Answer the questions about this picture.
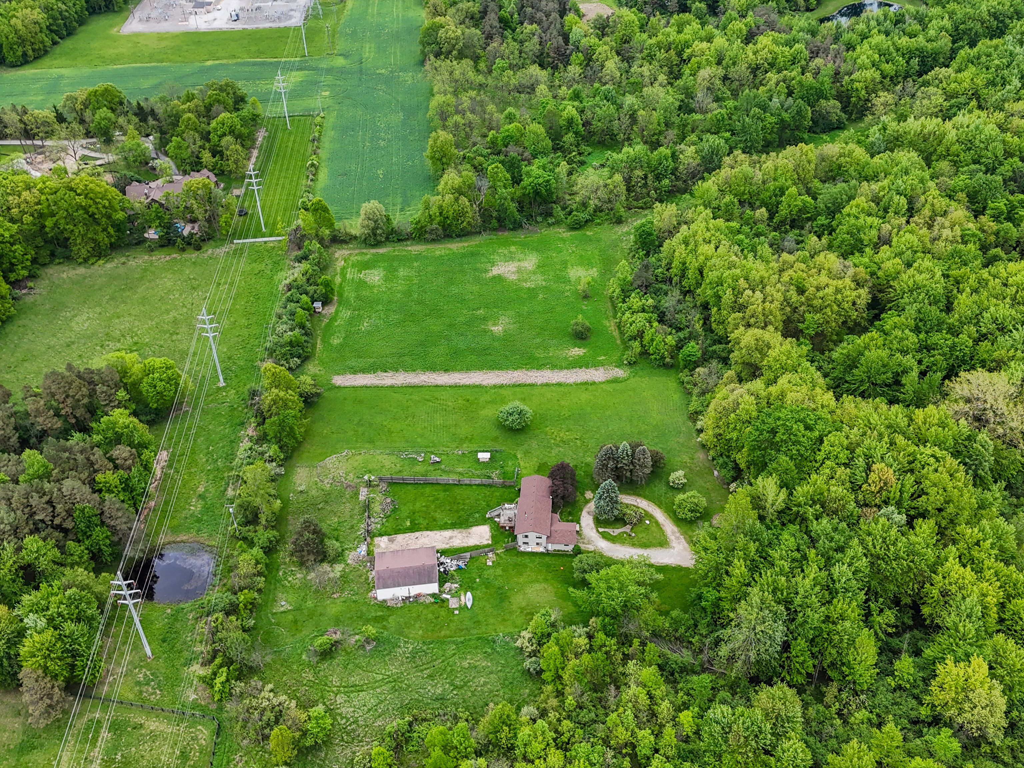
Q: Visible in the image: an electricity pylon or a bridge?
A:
electricity pylon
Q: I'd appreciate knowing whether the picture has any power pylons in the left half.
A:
Yes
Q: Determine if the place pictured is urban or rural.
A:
rural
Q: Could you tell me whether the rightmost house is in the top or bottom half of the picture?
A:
bottom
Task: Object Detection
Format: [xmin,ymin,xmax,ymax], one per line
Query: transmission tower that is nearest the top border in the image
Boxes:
[295,4,308,56]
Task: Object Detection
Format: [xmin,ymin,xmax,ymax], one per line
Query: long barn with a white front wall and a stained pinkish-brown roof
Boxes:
[374,545,439,599]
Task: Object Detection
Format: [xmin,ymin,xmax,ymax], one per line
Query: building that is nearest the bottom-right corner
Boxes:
[514,475,576,553]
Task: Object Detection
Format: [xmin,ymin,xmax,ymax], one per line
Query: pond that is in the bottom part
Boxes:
[133,543,216,603]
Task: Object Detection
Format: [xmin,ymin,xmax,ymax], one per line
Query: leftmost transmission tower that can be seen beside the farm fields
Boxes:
[110,570,154,661]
